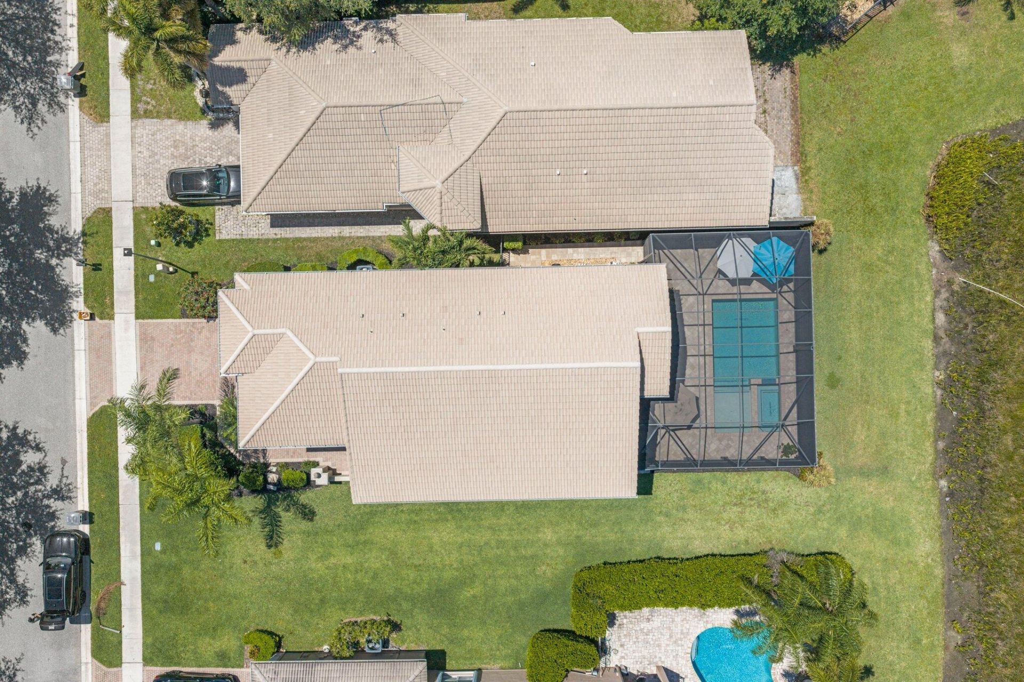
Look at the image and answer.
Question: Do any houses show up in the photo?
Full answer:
Yes, there is a house in the image.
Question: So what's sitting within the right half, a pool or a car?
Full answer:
The one visible within the right half is a pool.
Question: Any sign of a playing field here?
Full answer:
No, I can see no playing field in this picture.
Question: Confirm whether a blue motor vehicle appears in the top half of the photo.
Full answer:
No, I see no blue motor vehicle in the top half of the photo.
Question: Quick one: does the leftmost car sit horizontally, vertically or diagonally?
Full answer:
The leftmost car has been laid out vertically relative to the frame.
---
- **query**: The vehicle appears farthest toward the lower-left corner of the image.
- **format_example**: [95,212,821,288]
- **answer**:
[39,527,86,635]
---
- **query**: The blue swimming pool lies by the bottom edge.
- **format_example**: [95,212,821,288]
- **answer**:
[686,617,783,682]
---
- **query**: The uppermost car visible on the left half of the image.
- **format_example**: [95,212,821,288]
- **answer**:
[167,165,240,206]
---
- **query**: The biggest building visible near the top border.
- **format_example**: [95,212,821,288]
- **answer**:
[206,12,774,235]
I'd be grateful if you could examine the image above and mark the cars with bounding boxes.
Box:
[167,165,240,206]
[151,672,234,682]
[39,527,86,635]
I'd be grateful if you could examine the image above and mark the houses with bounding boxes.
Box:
[249,651,669,682]
[217,262,672,506]
[206,12,774,235]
